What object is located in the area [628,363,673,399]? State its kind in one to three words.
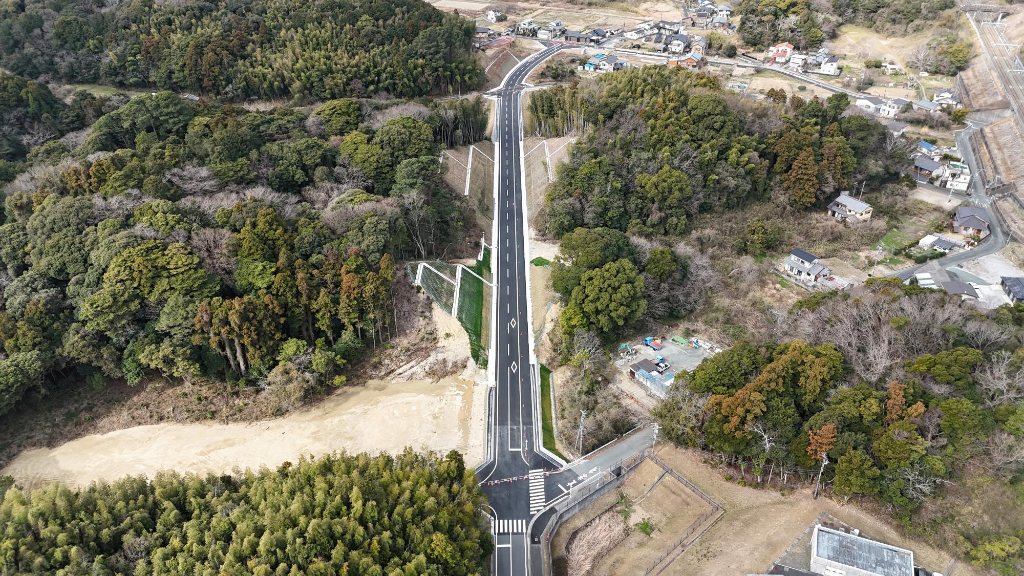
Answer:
shed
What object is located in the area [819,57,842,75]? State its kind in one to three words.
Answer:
house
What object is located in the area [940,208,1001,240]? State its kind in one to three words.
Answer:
house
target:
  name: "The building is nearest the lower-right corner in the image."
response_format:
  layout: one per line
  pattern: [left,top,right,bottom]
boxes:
[810,520,917,576]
